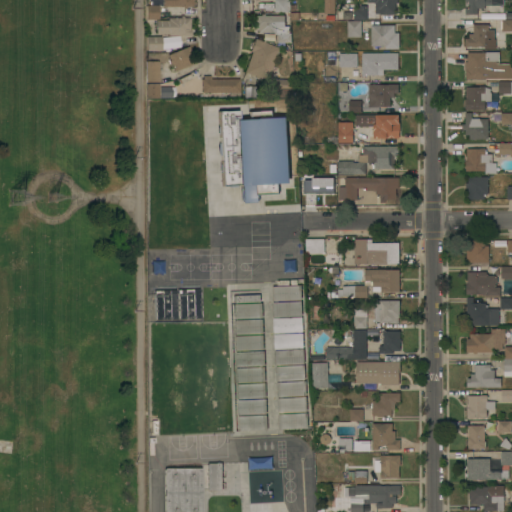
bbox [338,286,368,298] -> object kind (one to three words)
building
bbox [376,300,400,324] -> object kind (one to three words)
house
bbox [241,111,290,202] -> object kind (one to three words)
building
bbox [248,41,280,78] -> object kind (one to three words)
house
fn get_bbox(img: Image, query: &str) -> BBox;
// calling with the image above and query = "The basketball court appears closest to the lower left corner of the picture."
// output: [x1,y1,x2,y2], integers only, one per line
[170,435,198,460]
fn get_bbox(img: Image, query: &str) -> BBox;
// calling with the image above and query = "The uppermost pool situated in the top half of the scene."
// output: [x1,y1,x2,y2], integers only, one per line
[350,84,369,98]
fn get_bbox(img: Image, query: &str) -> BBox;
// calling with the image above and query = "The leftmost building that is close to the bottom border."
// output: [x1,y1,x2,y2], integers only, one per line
[164,468,204,512]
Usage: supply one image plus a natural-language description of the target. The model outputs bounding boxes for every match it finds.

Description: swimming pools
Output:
[329,374,342,383]
[336,427,356,436]
[314,332,330,354]
[344,270,364,281]
[504,280,512,294]
[350,84,369,98]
